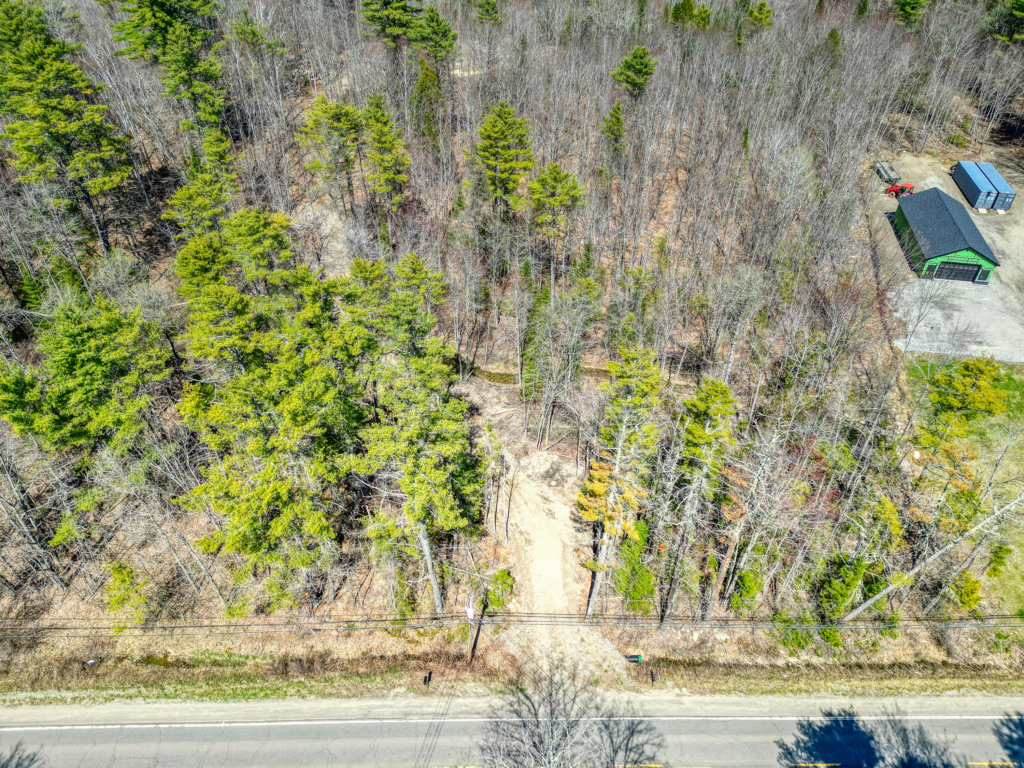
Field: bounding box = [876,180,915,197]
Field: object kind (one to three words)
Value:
work vehicle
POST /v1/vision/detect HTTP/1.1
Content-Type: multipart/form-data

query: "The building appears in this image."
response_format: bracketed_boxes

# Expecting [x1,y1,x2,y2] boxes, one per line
[893,187,1001,285]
